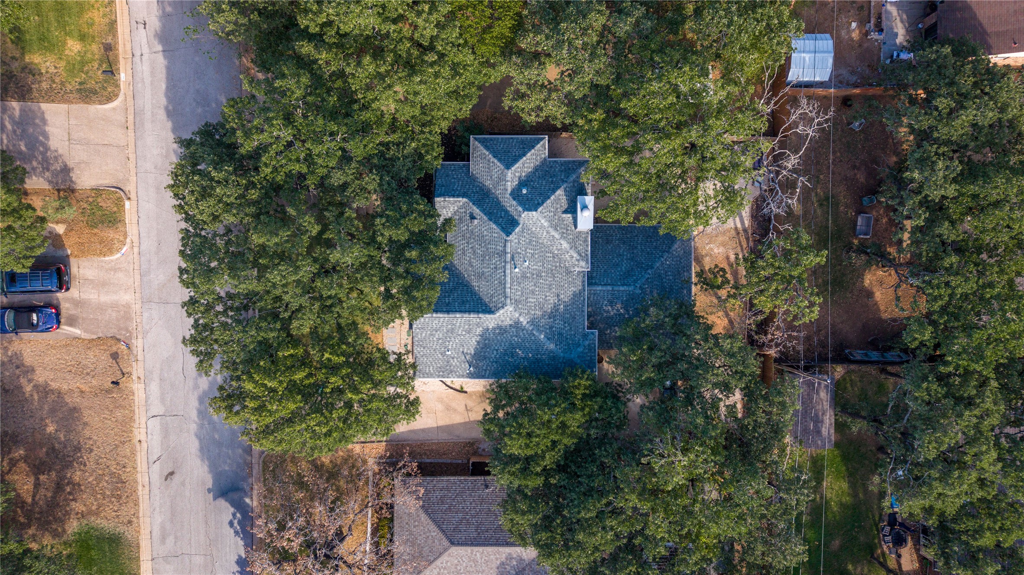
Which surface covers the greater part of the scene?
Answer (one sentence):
The scene is dominated by trees.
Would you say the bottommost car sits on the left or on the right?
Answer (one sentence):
The bottommost car sits on the left side.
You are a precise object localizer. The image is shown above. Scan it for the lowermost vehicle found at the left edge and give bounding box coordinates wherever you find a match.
[0,303,63,336]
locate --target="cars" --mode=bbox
[0,264,75,299]
[0,303,63,336]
